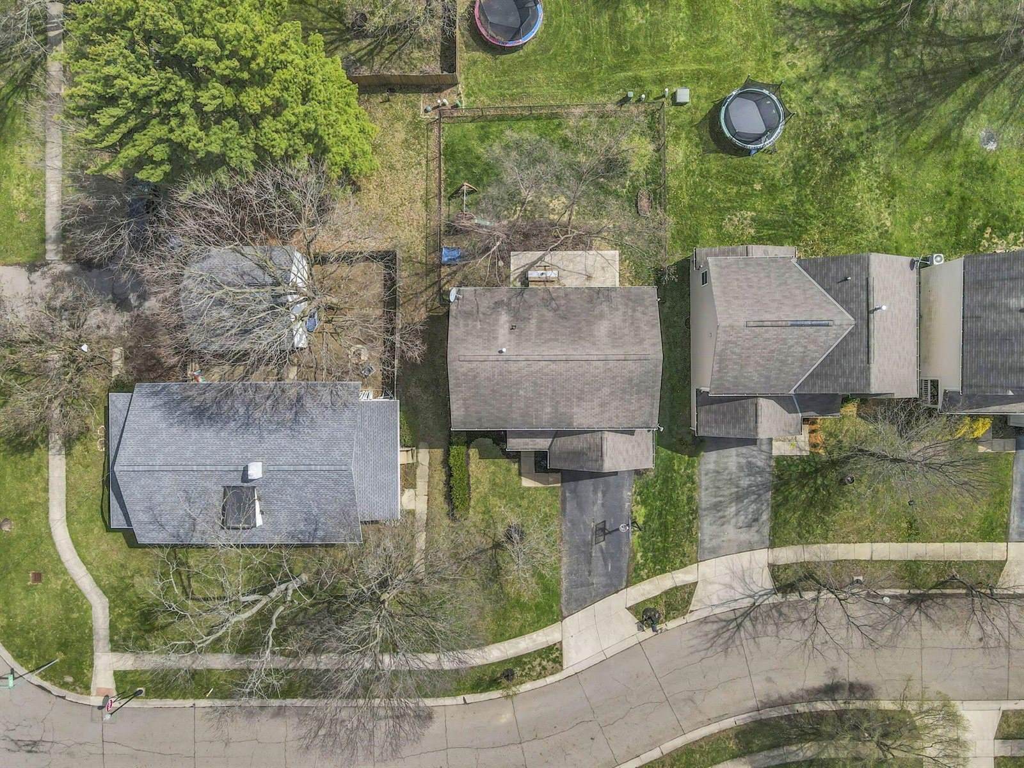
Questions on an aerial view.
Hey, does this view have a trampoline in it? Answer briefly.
Yes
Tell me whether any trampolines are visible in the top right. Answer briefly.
Yes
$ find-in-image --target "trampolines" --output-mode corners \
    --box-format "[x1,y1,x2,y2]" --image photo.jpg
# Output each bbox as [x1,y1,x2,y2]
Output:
[472,0,546,53]
[716,75,796,160]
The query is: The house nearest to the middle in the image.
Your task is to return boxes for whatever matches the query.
[447,286,665,472]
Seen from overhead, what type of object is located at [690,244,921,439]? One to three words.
house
